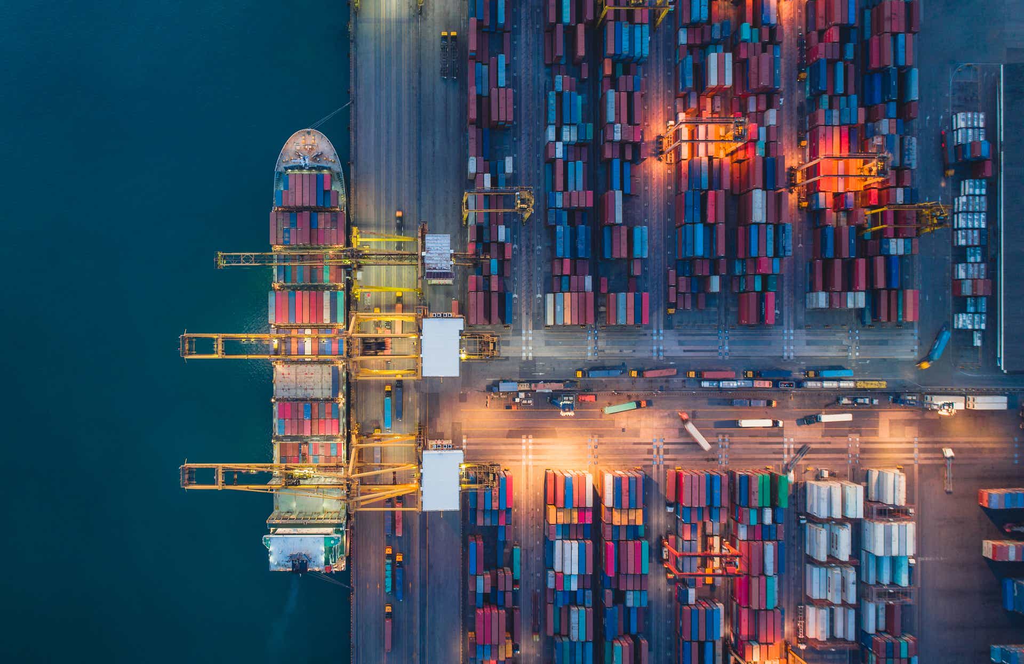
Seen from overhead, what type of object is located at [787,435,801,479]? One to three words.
vehicle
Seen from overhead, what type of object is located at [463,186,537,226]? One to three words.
container crane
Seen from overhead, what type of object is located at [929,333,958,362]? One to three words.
shipping container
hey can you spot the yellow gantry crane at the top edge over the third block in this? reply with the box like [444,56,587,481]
[595,0,676,38]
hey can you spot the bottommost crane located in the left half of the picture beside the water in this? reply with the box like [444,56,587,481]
[177,417,498,518]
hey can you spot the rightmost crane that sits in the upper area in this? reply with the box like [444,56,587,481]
[861,202,964,240]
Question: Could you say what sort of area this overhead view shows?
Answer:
port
